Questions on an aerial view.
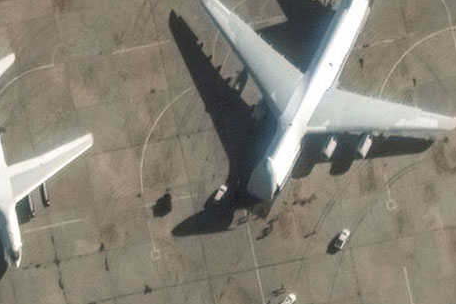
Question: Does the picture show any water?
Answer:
No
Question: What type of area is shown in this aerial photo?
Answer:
airport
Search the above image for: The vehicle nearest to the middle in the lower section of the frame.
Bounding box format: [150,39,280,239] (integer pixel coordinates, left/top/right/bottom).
[213,184,228,204]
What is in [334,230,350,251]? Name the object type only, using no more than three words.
vehicle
